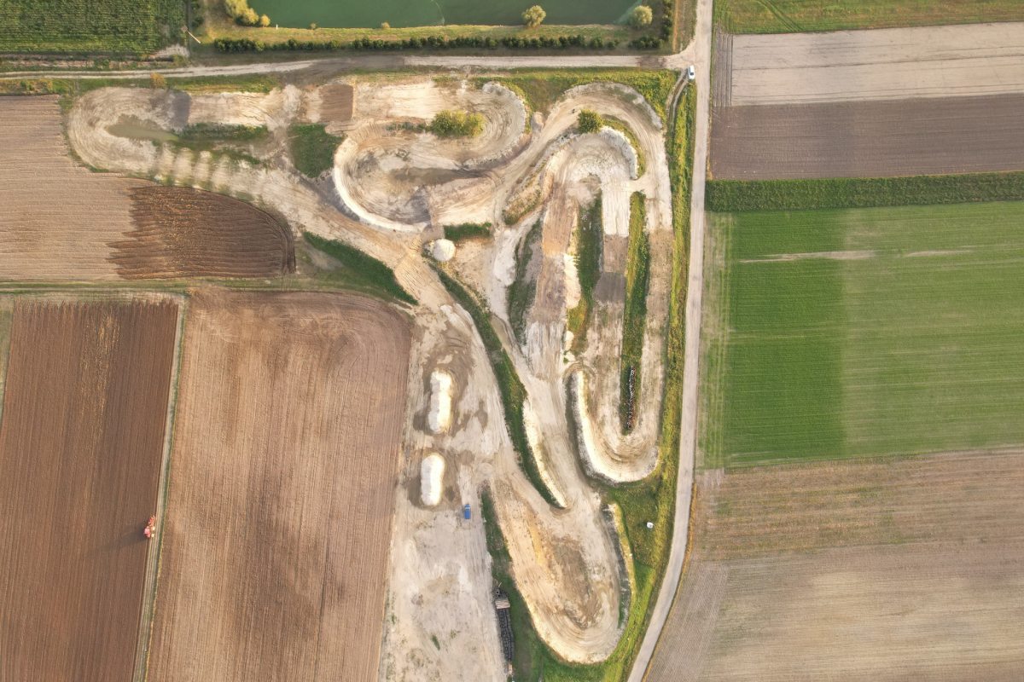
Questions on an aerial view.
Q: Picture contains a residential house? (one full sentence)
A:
No, there's no residential house here.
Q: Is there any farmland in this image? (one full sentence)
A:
Yes, farmland can be seen from above here.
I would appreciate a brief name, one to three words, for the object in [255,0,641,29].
pond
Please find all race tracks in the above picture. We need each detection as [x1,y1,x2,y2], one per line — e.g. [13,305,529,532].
[68,78,673,682]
